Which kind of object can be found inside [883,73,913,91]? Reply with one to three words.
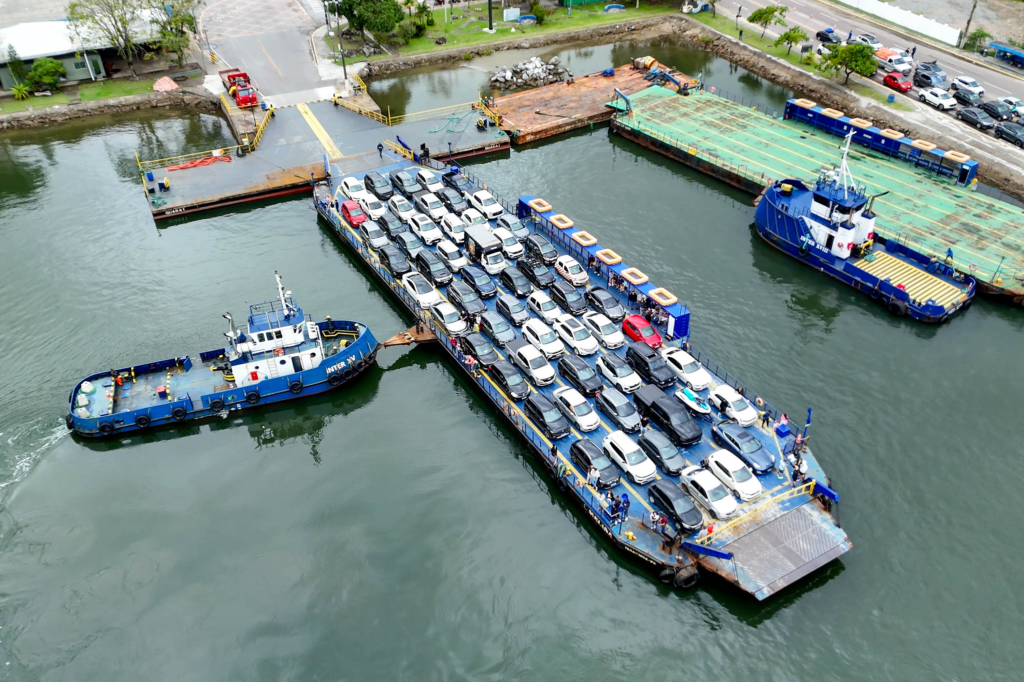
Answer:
car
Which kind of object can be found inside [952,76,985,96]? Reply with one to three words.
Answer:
car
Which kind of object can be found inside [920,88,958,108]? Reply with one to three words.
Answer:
vehicle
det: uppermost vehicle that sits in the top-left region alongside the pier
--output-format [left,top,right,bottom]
[225,68,255,99]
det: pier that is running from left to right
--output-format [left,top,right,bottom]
[132,90,512,220]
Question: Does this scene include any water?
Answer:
Yes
